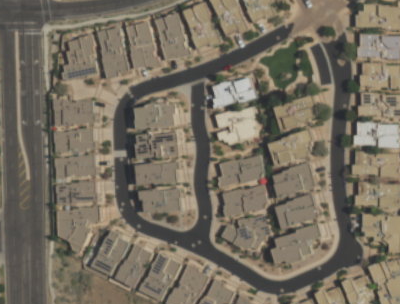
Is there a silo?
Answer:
No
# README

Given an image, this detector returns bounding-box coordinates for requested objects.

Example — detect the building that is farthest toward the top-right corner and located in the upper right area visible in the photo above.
[356,4,400,30]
